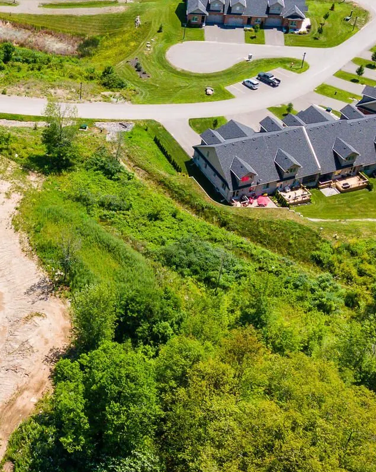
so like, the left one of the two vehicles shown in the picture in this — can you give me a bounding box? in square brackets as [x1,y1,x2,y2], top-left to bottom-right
[243,74,262,87]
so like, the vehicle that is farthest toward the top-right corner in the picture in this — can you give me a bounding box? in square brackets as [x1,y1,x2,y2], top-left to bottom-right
[258,69,281,83]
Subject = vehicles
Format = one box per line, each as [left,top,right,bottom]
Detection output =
[243,74,262,87]
[258,69,281,83]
